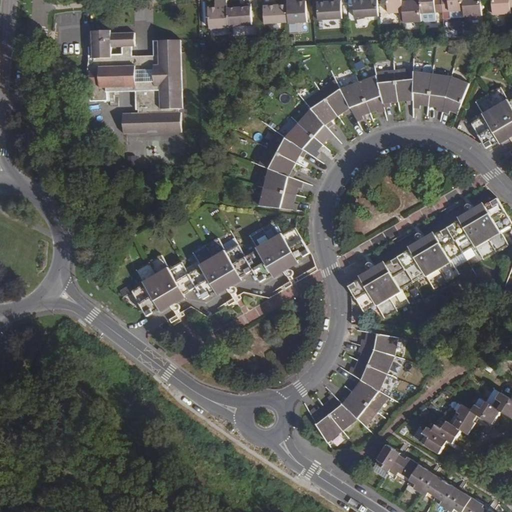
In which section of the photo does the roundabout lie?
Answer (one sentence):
The roundabout sits in the bottom section of the image.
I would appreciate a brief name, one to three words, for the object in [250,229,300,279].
house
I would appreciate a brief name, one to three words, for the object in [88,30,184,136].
building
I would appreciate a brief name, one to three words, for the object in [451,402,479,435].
house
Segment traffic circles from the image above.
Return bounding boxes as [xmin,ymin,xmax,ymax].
[220,381,308,464]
